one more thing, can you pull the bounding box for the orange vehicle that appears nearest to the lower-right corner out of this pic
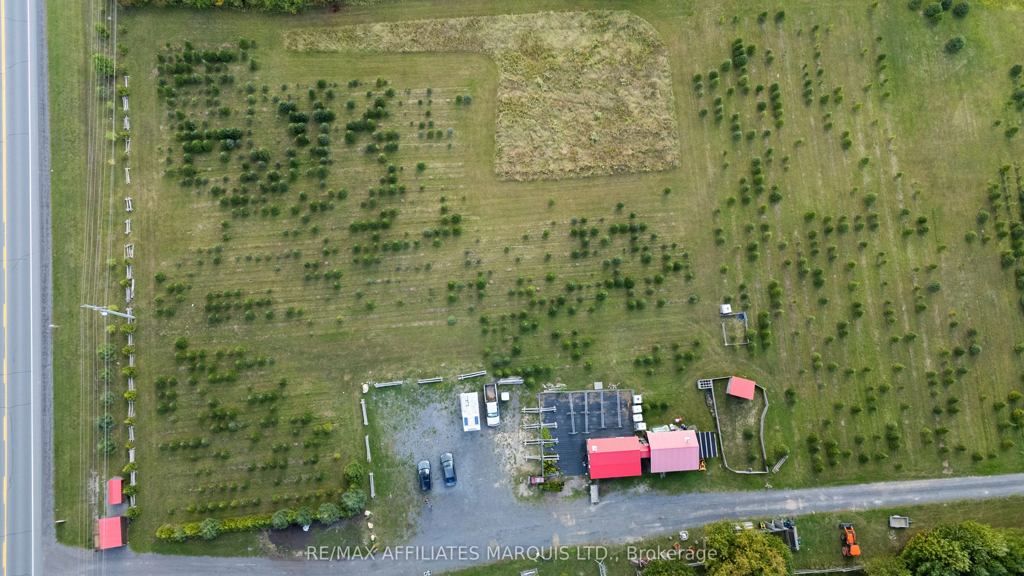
[842,524,863,558]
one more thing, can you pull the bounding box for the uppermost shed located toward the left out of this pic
[109,478,132,505]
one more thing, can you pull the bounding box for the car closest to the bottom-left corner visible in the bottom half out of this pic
[416,460,434,491]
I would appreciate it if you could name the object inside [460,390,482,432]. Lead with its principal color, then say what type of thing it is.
white trailer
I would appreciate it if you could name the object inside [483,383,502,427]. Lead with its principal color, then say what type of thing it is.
white vehicle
